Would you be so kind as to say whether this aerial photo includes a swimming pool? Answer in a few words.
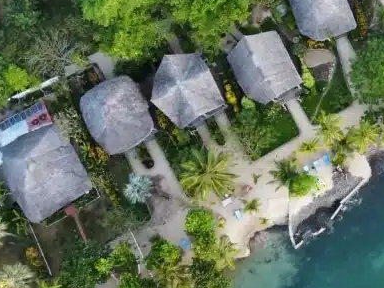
No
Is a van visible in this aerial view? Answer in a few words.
No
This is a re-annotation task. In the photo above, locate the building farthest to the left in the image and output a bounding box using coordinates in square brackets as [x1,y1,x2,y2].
[0,99,93,227]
